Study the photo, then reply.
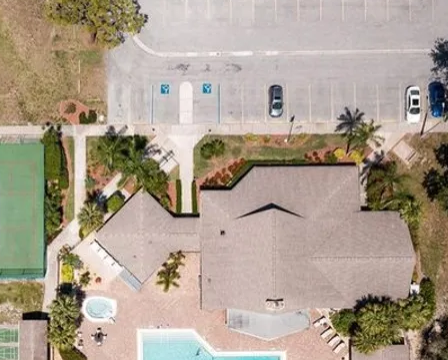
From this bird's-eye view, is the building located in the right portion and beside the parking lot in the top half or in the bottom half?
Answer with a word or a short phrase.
bottom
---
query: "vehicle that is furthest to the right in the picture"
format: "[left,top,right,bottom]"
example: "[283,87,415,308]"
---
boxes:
[428,81,447,117]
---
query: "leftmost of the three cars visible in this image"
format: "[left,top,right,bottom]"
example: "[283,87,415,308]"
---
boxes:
[269,83,286,116]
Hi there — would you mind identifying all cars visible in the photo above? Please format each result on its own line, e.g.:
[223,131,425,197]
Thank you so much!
[406,85,425,121]
[269,83,286,116]
[428,81,447,117]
